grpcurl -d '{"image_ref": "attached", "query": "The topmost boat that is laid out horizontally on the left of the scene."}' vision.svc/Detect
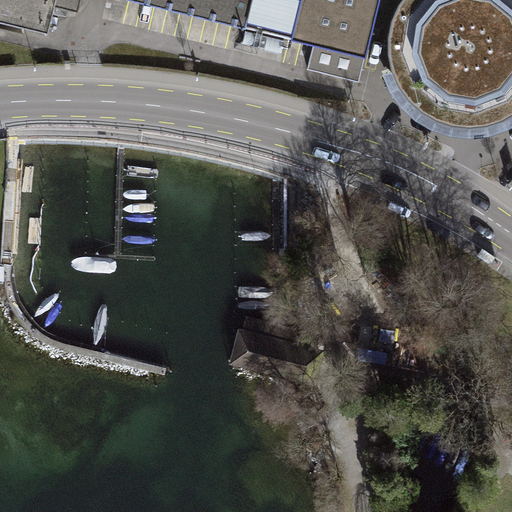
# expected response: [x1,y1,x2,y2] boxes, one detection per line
[124,164,158,179]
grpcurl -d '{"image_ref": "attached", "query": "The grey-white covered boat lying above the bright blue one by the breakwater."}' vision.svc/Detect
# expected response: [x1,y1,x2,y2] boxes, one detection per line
[34,292,61,317]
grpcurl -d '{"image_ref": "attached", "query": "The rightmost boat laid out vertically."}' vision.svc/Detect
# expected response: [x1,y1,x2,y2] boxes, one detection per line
[93,304,108,345]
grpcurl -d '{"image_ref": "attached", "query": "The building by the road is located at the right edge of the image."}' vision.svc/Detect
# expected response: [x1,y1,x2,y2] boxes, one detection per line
[376,0,512,140]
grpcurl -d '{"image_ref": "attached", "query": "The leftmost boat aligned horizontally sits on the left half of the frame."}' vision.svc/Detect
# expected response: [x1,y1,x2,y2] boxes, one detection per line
[70,256,120,274]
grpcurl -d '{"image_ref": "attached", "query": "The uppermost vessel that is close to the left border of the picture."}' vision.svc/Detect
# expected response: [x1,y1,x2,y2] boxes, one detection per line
[22,166,34,192]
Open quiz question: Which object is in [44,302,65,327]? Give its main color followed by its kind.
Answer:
blue boat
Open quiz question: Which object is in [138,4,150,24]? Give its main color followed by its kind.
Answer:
white vehicle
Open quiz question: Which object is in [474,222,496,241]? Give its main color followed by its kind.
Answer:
gray car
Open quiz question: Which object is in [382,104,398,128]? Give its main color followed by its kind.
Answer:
black car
